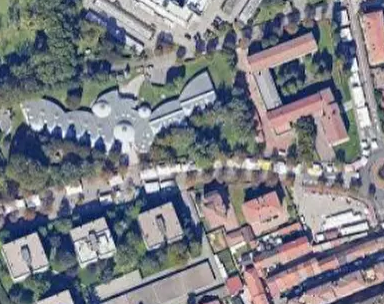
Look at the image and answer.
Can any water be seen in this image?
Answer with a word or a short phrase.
No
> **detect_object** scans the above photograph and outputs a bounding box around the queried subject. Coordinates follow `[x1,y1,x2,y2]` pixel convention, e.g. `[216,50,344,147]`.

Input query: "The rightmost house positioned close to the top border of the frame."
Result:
[361,11,384,68]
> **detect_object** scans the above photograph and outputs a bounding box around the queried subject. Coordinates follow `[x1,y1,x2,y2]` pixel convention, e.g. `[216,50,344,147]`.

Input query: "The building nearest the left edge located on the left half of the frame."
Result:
[0,233,47,283]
